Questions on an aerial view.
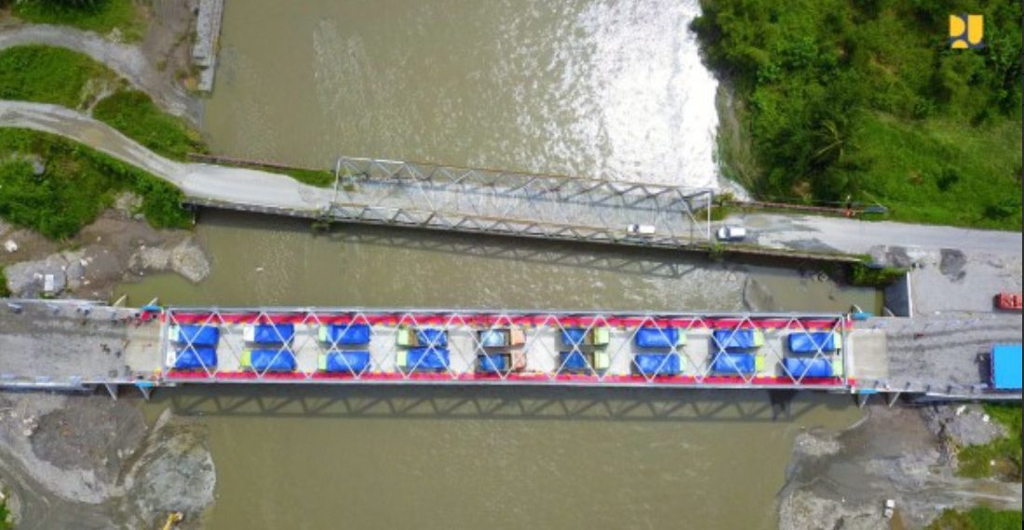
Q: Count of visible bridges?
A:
two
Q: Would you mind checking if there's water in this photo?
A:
Yes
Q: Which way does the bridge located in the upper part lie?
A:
horizontally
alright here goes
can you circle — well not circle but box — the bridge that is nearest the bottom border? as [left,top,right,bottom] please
[152,307,858,405]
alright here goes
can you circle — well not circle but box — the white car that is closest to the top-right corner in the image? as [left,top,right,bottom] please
[719,225,747,240]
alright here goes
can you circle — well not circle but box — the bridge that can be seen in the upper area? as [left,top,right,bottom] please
[327,156,716,259]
